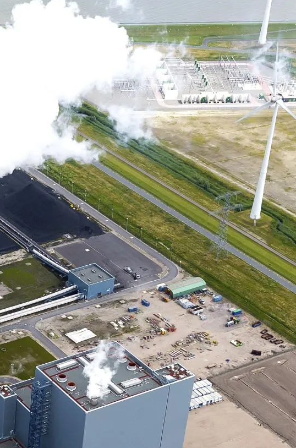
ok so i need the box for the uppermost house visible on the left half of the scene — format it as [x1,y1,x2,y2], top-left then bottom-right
[69,263,113,299]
